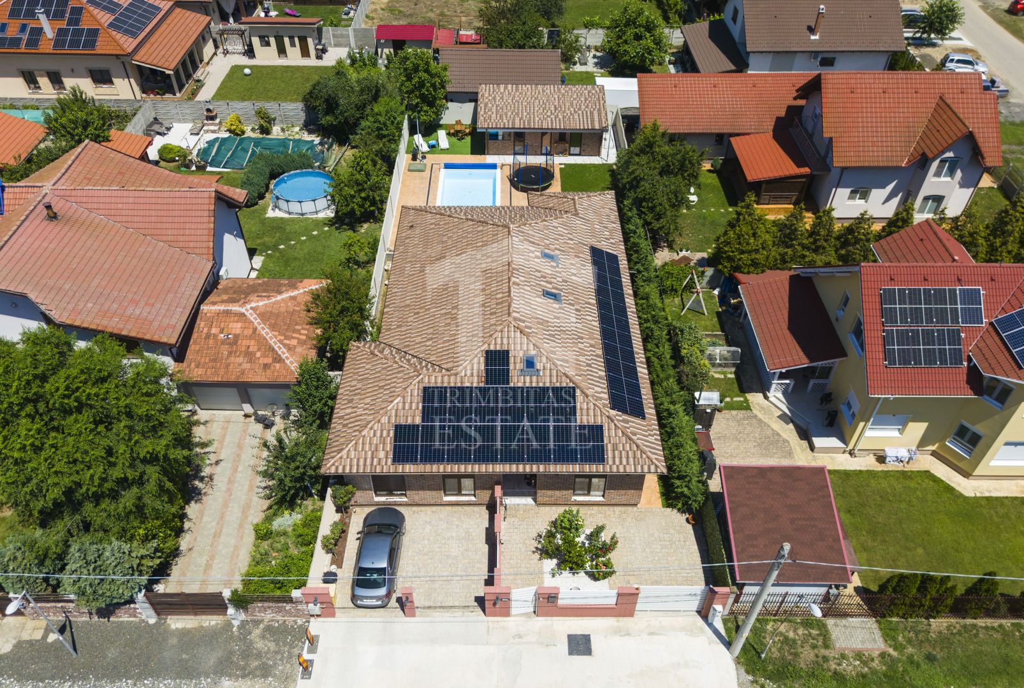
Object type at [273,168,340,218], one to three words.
swimming pool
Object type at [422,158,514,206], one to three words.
swimming pool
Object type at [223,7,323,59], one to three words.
shed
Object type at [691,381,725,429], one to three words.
shed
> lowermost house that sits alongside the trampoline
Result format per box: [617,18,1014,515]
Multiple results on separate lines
[319,189,669,514]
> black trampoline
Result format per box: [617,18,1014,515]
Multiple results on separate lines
[509,140,554,190]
